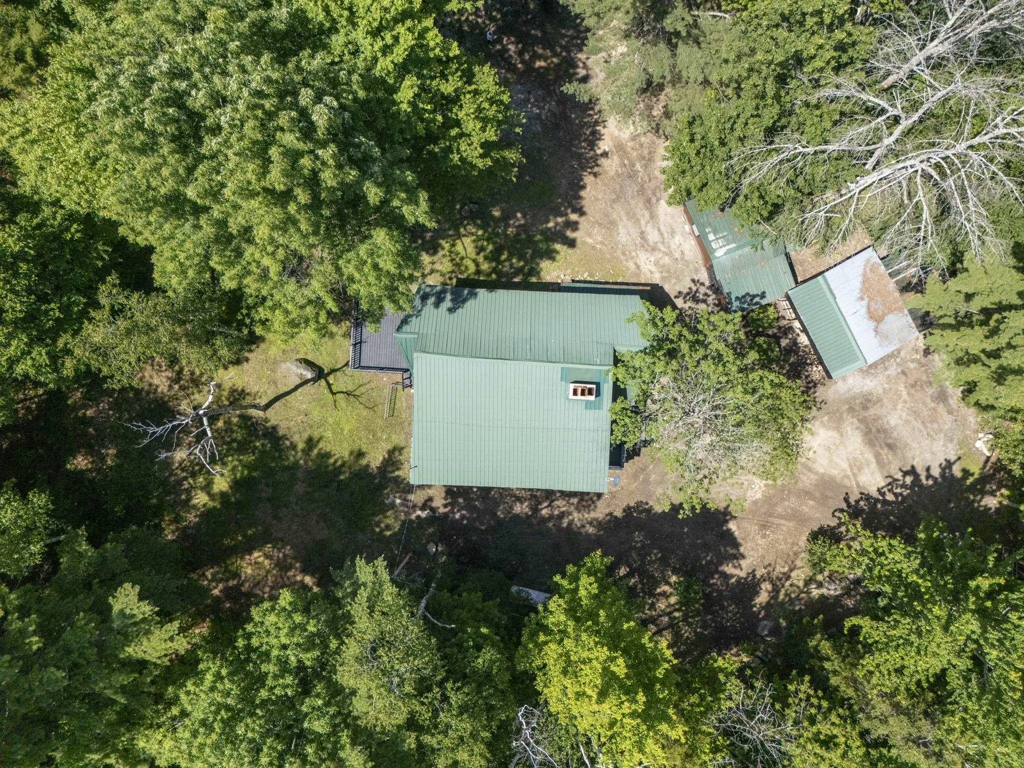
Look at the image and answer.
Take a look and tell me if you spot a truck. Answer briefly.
No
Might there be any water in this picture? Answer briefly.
No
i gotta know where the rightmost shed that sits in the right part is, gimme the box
[784,237,937,379]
